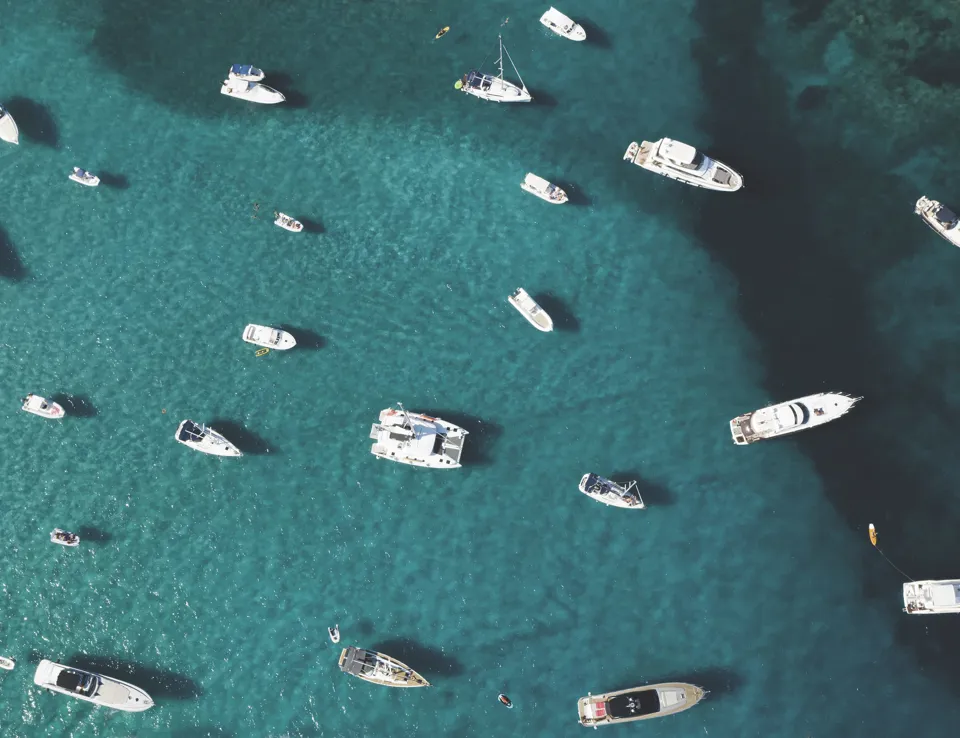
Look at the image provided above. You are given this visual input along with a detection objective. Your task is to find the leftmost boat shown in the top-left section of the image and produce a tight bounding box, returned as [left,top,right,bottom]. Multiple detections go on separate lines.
[0,109,21,145]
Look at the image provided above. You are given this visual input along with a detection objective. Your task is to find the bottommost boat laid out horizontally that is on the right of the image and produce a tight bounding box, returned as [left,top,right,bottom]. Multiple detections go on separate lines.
[576,683,710,730]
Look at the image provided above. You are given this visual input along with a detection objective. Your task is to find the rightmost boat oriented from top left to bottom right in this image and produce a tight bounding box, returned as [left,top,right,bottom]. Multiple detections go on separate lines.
[909,200,960,249]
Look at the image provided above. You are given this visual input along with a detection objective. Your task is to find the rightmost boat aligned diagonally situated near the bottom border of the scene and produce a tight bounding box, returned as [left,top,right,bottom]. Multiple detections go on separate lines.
[497,693,513,708]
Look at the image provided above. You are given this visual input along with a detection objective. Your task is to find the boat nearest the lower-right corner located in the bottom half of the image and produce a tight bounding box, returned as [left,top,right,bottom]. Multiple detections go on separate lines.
[899,580,960,613]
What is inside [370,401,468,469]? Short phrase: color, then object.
white boat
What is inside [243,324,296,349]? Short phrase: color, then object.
white boat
